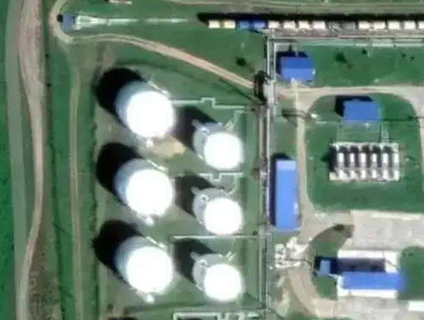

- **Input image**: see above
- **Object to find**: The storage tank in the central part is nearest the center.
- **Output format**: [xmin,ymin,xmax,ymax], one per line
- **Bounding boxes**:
[190,119,242,170]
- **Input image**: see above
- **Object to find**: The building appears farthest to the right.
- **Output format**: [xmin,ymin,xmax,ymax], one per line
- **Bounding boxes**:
[339,97,379,121]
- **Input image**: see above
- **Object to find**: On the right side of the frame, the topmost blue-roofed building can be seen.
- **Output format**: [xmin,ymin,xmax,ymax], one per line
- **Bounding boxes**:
[275,53,313,80]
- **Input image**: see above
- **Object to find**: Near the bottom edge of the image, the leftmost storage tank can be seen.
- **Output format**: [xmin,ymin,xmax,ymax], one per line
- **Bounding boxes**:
[116,233,174,305]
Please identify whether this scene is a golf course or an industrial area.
industrial area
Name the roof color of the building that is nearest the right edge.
blue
